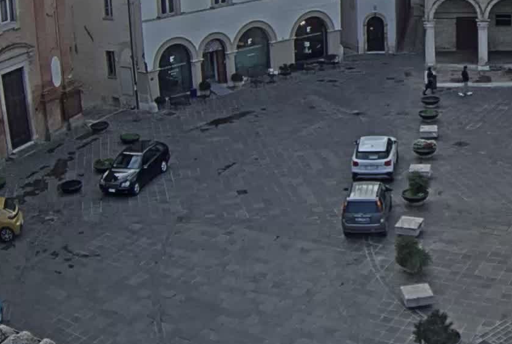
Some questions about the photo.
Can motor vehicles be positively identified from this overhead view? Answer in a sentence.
Yes, there is a motor vehicle in the image.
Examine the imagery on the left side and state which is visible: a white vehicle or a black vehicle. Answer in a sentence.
Visible on the left side is a black vehicle.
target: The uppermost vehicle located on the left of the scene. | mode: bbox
[100,136,170,189]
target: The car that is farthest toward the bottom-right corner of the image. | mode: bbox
[350,174,399,229]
